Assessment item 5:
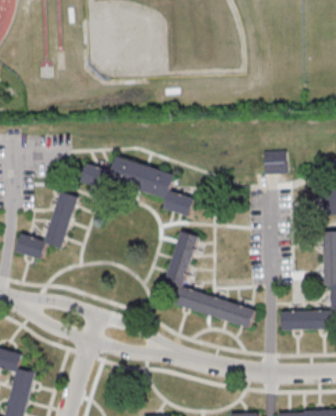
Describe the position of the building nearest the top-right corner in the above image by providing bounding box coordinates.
[263,150,287,173]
